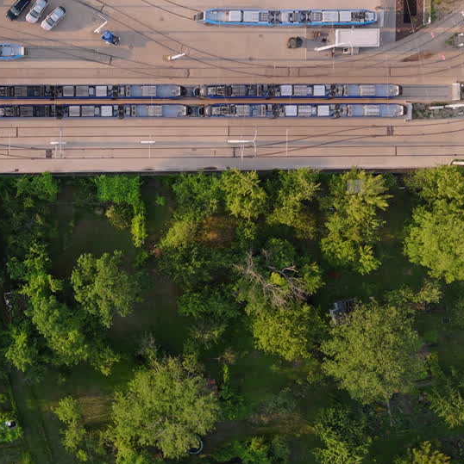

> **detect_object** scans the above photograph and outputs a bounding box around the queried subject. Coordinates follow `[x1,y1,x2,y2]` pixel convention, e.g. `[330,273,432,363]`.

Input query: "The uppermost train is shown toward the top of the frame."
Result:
[191,9,375,28]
